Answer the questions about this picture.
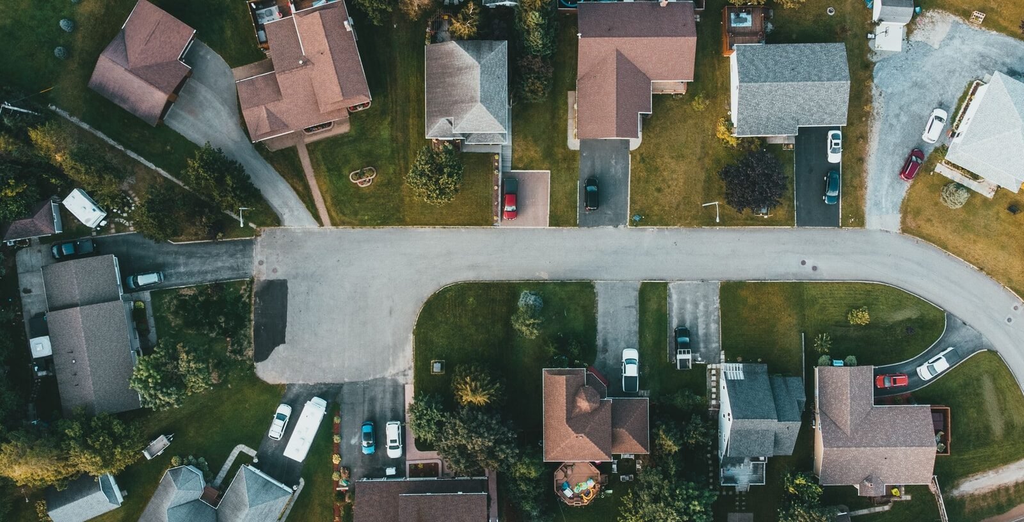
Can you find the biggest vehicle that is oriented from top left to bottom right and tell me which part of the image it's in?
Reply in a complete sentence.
The biggest vehicle that is oriented from top left to bottom right sits in the left section of the image.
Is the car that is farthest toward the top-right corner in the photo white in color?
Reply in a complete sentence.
Yes, the car that is farthest toward the top-right corner appears white.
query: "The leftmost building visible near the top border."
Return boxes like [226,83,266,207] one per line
[87,0,197,127]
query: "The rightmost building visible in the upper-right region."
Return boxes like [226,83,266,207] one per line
[941,70,1024,195]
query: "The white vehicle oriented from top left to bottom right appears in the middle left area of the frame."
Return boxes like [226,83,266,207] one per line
[62,189,107,227]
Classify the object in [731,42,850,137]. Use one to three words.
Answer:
house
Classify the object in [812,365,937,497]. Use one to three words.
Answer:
house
